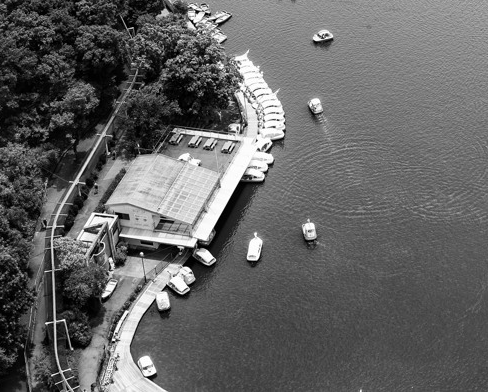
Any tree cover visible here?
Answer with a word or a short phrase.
Yes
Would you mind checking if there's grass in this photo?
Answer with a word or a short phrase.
No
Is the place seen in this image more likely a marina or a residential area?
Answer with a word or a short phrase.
marina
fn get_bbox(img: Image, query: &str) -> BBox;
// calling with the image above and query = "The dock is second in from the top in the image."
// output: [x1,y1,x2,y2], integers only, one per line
[205,166,255,248]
